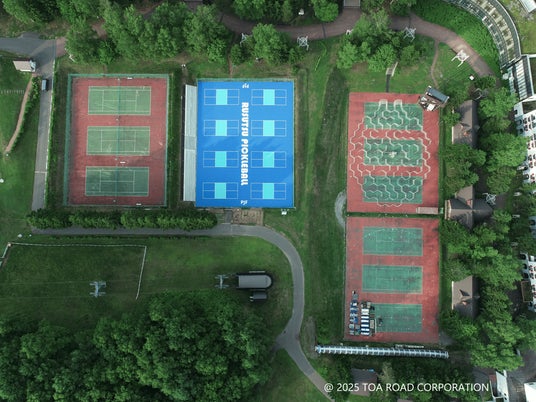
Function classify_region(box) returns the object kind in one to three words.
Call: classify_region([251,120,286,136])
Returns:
sports court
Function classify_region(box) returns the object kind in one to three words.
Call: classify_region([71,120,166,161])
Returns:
tennis court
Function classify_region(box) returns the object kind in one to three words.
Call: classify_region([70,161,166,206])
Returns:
tennis court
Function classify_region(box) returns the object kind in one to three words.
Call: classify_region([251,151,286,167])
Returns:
sports court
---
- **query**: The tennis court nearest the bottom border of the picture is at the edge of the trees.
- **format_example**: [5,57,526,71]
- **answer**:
[345,299,439,341]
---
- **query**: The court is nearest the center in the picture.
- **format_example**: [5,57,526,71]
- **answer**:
[251,183,286,199]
